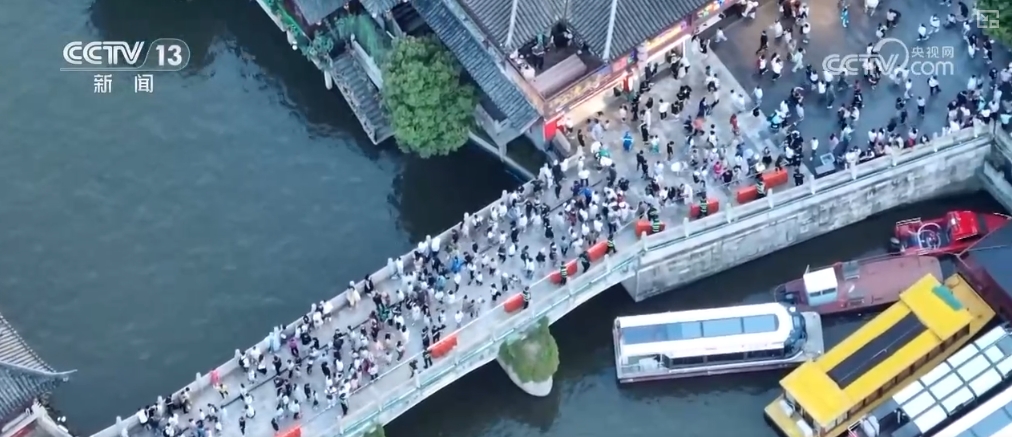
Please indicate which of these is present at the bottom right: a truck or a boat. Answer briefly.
boat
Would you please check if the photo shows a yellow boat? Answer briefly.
Yes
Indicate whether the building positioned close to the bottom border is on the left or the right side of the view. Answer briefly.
left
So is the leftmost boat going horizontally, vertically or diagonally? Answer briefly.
horizontally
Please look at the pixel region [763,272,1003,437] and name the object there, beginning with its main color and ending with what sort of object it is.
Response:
yellow boat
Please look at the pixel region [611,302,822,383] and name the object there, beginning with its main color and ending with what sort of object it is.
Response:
white boat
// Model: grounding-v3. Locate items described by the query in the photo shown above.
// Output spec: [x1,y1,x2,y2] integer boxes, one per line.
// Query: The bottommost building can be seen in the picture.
[0,315,80,437]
